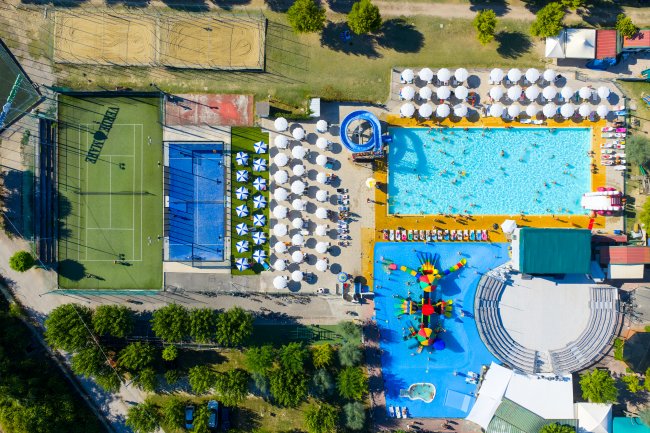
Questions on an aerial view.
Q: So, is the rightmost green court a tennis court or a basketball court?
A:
tennis court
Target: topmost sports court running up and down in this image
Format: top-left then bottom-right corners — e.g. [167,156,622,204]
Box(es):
[0,39,42,132]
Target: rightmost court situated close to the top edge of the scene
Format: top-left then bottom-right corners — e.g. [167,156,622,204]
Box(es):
[162,12,262,66]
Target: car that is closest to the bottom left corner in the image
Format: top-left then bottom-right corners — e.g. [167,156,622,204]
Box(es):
[183,404,196,429]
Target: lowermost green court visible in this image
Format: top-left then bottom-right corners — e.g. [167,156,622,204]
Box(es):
[58,93,163,291]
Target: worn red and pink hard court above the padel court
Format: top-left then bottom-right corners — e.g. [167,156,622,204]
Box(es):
[164,95,253,124]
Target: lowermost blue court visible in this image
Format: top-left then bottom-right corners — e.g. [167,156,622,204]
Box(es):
[161,139,225,264]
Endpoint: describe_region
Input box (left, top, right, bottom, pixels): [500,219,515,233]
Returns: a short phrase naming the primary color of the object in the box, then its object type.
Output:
white umbrella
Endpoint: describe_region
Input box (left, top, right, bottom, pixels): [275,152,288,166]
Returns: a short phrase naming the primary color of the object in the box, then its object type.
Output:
white umbrella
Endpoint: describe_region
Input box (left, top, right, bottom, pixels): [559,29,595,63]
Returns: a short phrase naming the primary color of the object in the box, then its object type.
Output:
white tent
